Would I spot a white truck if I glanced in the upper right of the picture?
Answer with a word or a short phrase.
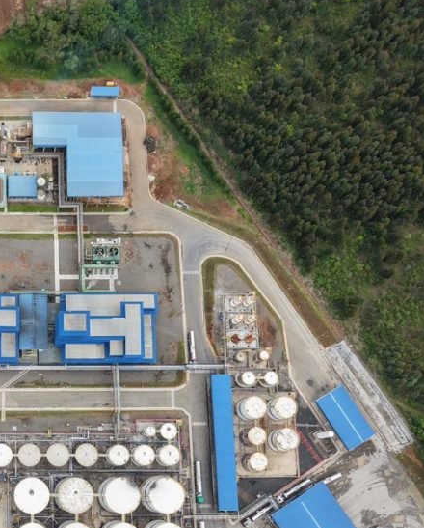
No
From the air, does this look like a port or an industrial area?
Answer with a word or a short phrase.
industrial area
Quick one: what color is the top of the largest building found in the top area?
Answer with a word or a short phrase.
blue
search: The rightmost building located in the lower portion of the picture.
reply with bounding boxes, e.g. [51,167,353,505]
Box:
[60,294,157,364]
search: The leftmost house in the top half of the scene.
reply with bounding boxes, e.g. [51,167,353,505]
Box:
[8,175,37,201]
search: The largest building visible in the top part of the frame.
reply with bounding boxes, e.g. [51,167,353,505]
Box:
[32,112,124,204]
